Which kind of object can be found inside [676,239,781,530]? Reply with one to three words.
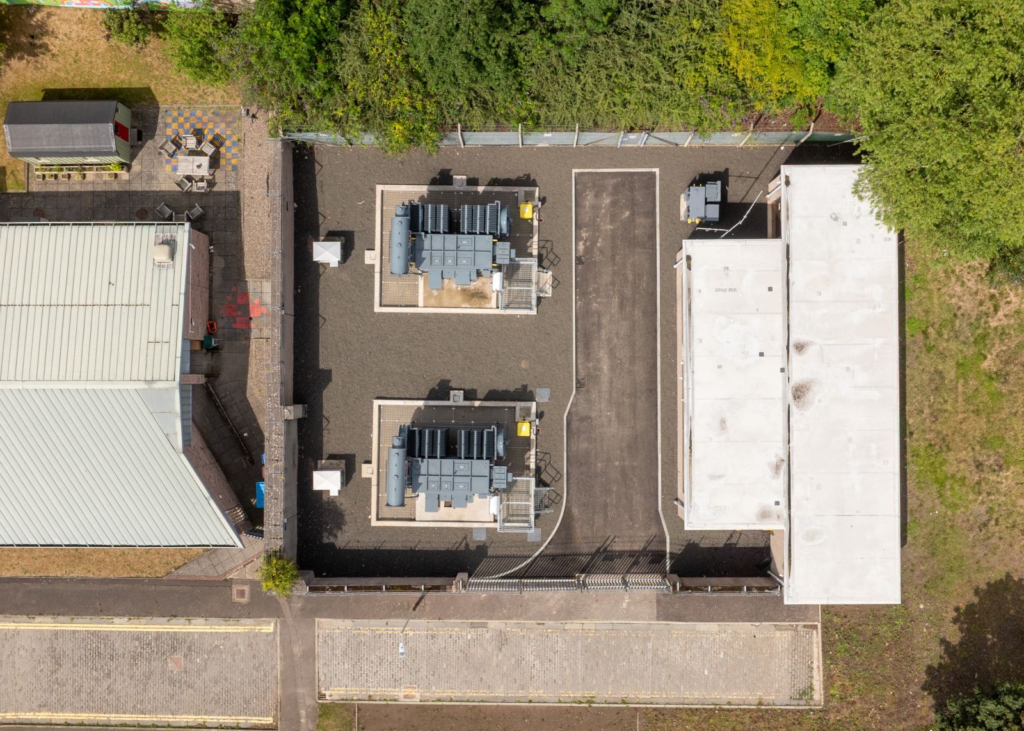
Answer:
building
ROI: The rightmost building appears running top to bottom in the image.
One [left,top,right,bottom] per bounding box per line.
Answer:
[769,165,901,604]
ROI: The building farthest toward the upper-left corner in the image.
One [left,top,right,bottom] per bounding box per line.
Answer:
[2,101,130,164]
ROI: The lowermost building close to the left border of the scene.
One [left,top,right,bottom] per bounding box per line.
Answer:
[0,220,255,552]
